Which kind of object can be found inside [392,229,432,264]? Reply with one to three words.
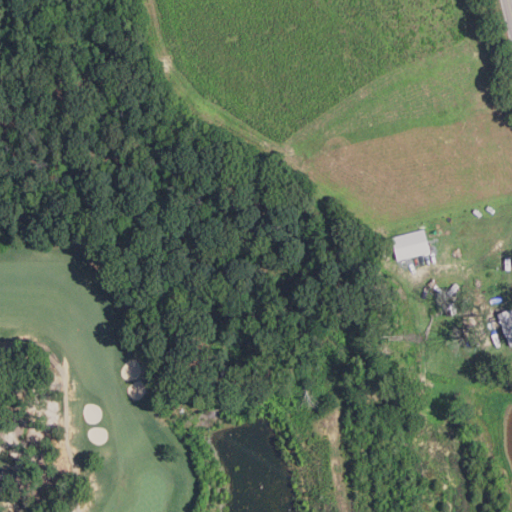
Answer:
barn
